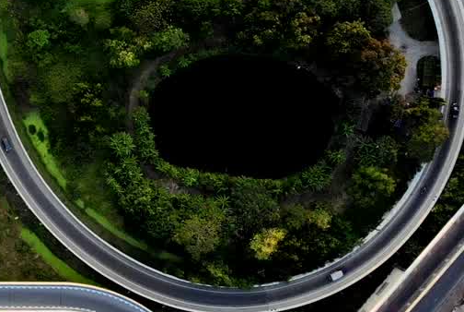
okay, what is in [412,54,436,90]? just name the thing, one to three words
shed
